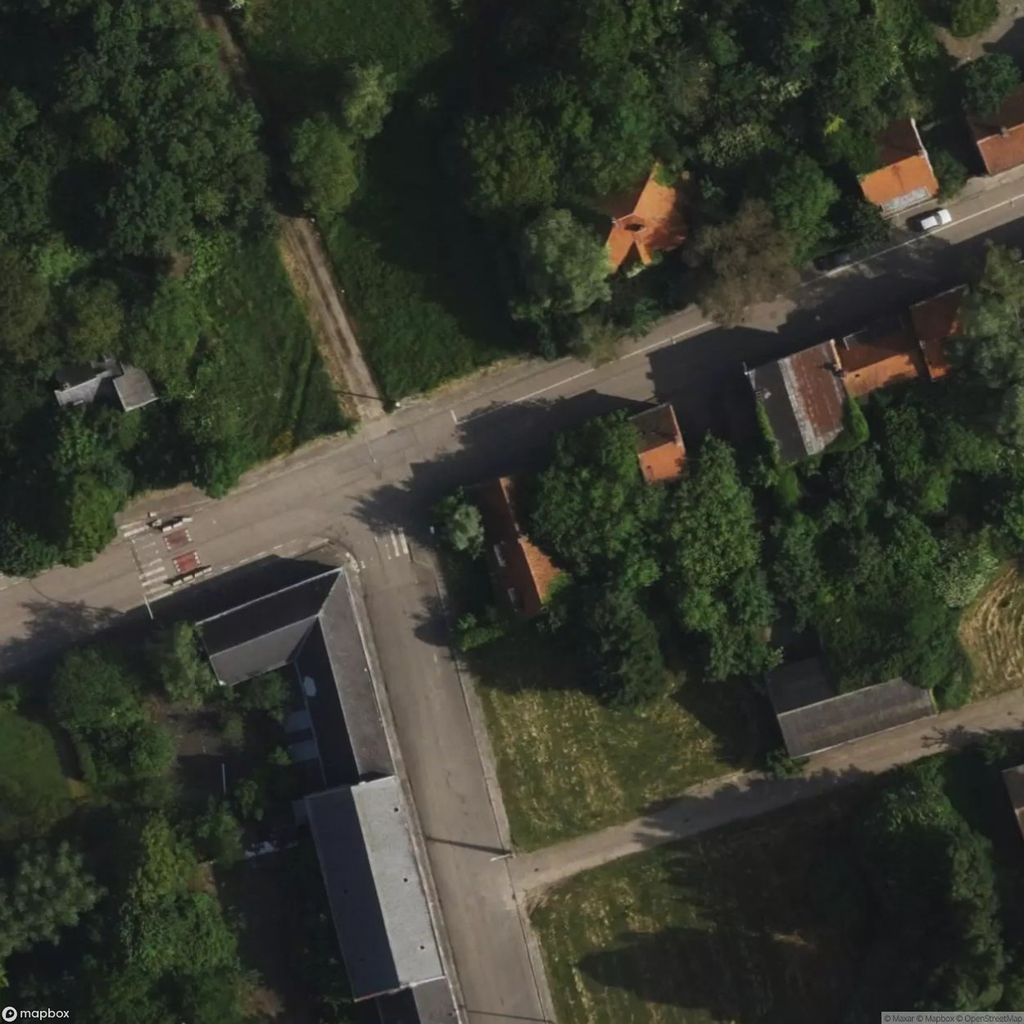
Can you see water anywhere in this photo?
No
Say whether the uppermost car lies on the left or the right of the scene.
right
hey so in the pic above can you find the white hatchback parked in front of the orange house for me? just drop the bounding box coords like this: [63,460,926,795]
[918,208,953,231]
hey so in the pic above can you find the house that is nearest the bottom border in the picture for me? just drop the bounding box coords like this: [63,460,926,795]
[375,977,459,1024]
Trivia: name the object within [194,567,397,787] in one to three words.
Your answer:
house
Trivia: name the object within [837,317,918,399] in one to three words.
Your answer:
house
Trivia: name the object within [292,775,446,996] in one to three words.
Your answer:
building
